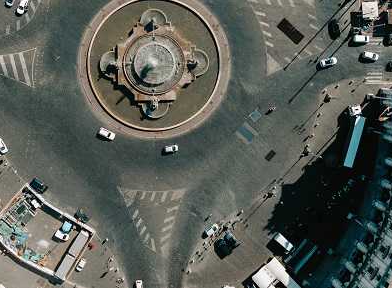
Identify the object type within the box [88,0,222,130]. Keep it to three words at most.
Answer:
fountain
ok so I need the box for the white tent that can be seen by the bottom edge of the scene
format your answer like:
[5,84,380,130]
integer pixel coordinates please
[248,257,298,288]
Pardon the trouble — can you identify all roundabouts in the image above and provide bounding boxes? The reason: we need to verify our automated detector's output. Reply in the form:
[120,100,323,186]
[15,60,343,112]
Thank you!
[18,0,291,201]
